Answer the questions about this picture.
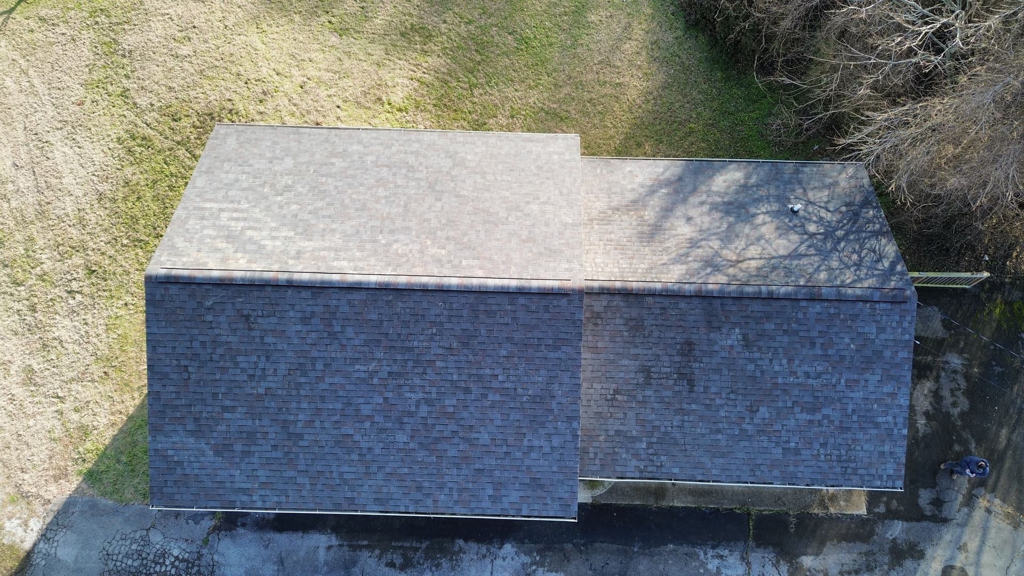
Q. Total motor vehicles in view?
0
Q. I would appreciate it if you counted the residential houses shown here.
1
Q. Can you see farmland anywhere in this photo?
No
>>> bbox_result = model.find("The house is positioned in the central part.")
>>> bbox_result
[145,122,918,523]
